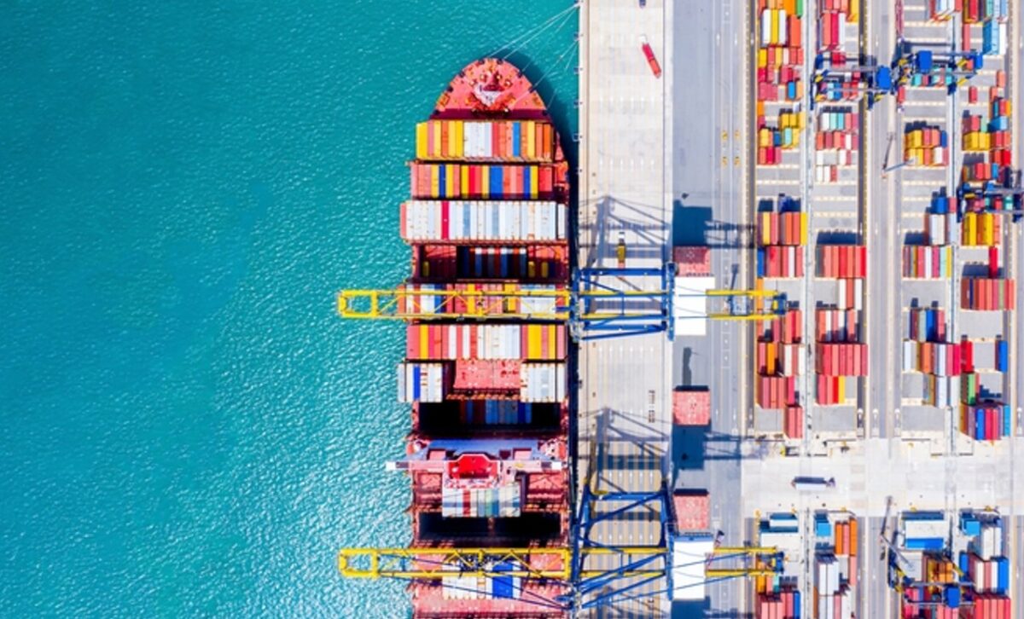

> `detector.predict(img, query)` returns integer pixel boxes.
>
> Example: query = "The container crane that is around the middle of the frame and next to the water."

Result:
[337,260,784,344]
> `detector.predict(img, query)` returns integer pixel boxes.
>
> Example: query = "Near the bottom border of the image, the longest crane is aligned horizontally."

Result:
[337,478,784,611]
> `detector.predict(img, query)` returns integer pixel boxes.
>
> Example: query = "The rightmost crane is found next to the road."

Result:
[954,188,1024,224]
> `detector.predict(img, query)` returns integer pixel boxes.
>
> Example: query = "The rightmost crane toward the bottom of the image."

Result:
[894,553,987,608]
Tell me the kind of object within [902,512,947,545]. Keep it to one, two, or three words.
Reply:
shed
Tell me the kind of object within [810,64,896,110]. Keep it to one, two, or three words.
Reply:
crane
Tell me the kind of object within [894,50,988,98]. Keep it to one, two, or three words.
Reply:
crane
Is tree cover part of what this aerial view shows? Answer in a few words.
No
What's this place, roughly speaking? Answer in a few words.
port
